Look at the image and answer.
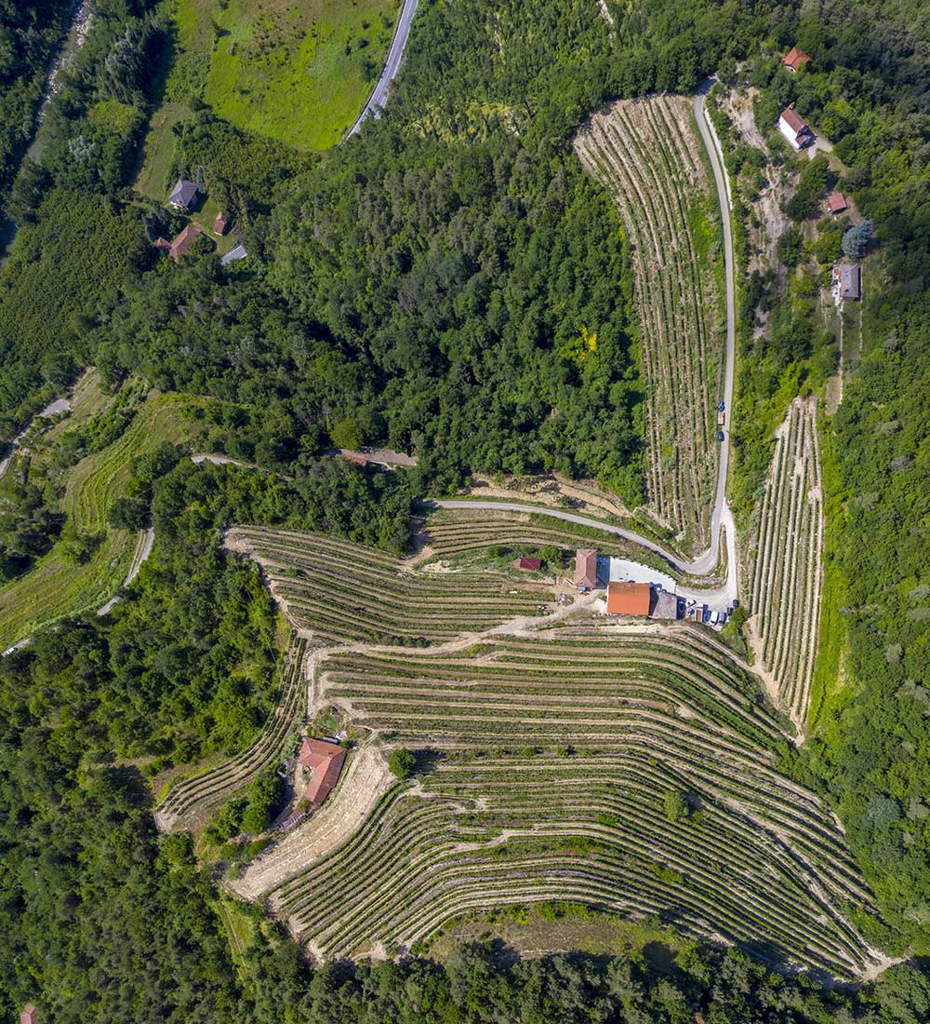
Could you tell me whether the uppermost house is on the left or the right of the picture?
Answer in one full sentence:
The uppermost house is on the right side of the image.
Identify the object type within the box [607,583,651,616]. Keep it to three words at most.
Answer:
barn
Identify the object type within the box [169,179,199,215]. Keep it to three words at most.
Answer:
house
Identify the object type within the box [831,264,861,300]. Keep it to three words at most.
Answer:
house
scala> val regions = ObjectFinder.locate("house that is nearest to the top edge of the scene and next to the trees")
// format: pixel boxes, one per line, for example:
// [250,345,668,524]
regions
[784,48,811,72]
